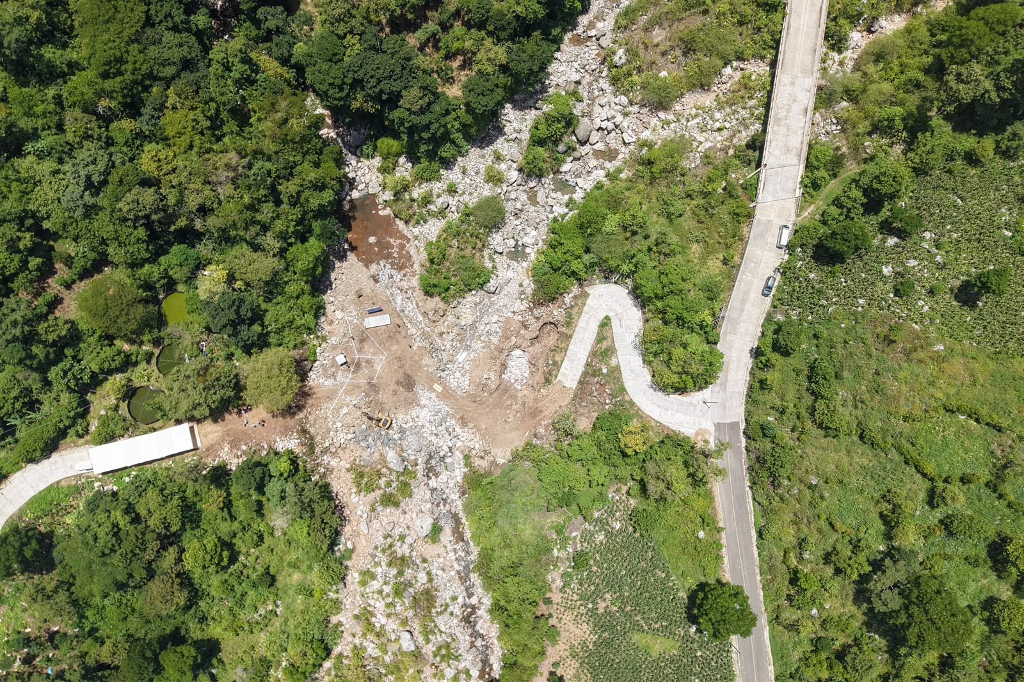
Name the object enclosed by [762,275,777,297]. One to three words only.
car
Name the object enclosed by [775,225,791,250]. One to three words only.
vehicle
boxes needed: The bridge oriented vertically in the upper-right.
[757,0,828,177]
